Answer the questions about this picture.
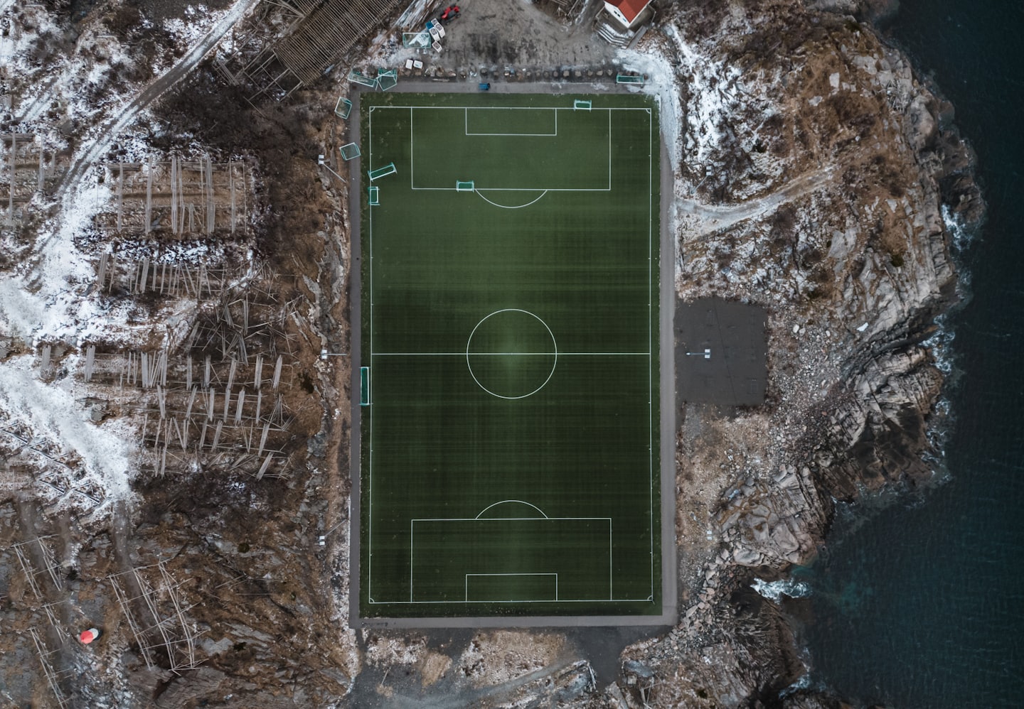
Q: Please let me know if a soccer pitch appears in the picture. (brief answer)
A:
Yes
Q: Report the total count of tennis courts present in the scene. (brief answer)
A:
0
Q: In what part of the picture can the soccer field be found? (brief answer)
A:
center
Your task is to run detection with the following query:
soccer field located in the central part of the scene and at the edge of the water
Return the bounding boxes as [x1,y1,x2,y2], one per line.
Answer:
[359,92,662,617]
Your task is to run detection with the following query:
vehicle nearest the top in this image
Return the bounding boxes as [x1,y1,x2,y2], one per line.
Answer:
[437,0,461,25]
